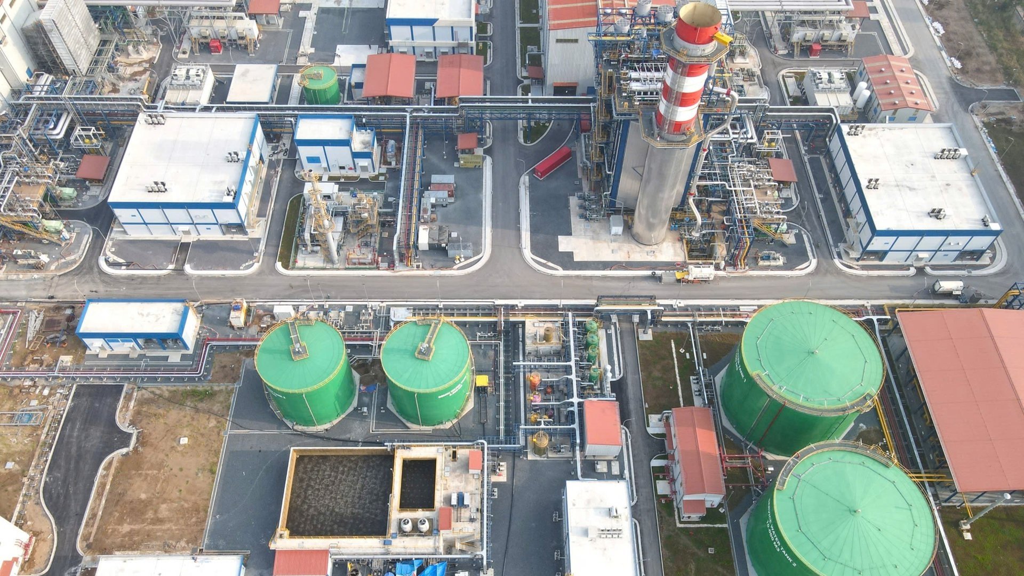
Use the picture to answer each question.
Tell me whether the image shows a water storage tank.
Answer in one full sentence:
Yes, the frame does contain a water storage tank.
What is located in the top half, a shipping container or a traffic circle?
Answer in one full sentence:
Looking in the top half, you will find a shipping container.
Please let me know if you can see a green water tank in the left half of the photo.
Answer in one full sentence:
Yes, looking in the left half of the photo, one can make out a green water tank.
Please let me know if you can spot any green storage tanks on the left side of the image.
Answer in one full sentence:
Yes, I can see a green storage tank on the left side of the image.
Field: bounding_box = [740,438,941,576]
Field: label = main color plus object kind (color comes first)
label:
green storage tank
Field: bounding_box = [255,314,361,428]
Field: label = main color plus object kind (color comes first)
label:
green water tank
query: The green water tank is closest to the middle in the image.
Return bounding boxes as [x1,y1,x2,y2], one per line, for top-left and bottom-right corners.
[382,313,475,427]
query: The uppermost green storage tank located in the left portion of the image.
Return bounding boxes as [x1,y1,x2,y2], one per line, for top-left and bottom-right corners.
[295,60,346,110]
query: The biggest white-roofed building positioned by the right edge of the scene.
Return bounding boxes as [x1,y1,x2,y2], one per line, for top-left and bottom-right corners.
[822,122,1004,267]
